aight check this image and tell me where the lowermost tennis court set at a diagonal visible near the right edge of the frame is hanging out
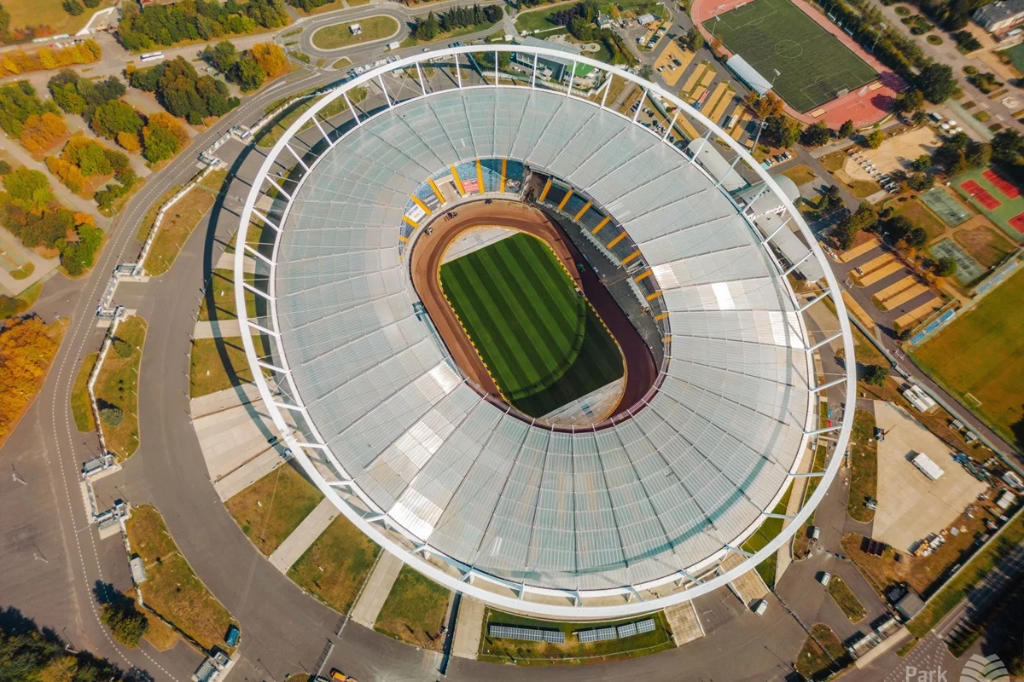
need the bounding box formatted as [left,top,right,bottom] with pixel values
[930,239,986,282]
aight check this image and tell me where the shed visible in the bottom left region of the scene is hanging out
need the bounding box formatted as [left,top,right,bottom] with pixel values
[130,557,150,584]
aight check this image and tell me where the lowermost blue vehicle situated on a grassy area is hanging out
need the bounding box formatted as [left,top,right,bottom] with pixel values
[223,624,239,648]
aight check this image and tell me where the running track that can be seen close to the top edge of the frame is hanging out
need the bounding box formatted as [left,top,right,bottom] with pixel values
[687,0,907,129]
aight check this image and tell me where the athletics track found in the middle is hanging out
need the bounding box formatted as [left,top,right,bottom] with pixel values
[410,197,662,446]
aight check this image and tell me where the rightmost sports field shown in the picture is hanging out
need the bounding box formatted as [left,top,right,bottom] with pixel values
[917,271,1024,429]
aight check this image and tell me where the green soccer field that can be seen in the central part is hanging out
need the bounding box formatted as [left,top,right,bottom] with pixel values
[441,226,625,429]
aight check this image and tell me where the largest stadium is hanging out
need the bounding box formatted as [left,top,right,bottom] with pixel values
[234,45,858,618]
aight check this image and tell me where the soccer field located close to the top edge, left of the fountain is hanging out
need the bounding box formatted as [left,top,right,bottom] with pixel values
[701,0,881,113]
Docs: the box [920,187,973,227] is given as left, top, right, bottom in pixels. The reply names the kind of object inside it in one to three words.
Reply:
tennis court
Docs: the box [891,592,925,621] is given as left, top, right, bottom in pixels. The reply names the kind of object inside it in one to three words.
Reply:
building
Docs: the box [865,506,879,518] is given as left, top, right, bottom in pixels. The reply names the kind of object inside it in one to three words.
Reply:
vehicle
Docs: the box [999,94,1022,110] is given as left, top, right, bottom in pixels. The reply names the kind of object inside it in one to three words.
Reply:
fountain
